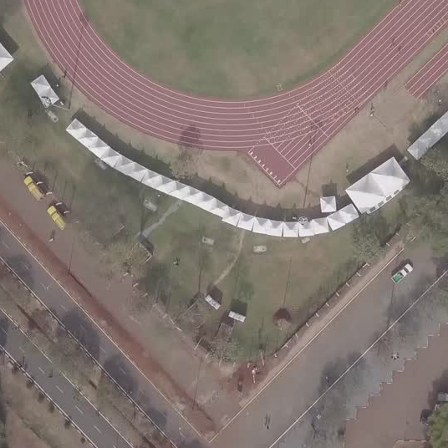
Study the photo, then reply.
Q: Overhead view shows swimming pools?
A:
No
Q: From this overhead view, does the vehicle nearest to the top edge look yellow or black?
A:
yellow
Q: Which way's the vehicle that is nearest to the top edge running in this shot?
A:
diagonally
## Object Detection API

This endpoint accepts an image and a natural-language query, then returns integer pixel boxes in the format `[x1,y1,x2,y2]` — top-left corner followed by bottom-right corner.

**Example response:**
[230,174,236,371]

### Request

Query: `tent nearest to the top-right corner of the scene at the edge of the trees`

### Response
[346,157,406,213]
